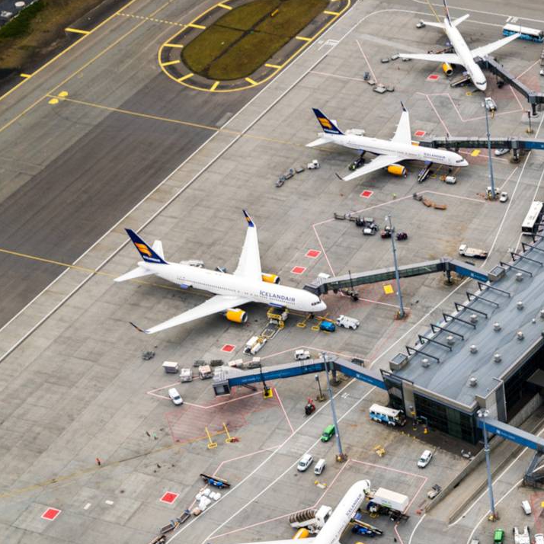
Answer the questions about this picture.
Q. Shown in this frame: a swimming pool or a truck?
truck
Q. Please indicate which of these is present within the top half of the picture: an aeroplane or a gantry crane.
aeroplane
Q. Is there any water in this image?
No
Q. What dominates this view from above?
paved ground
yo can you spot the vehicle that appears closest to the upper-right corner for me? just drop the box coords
[505,24,544,43]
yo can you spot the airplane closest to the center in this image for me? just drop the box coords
[118,217,319,336]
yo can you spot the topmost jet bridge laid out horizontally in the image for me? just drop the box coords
[419,137,544,167]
